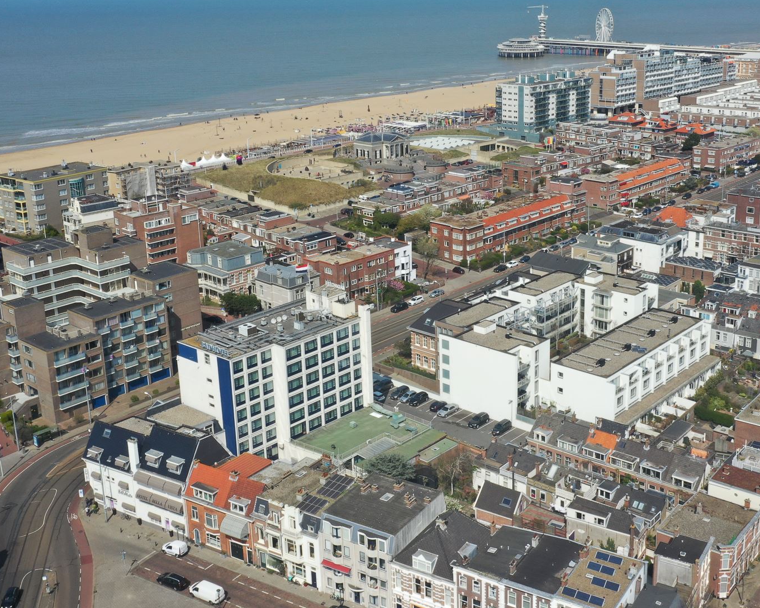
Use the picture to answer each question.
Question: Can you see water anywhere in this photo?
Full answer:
Yes, there is water in the image.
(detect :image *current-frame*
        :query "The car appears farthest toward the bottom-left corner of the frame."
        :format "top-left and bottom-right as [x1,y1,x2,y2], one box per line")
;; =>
[1,585,21,608]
